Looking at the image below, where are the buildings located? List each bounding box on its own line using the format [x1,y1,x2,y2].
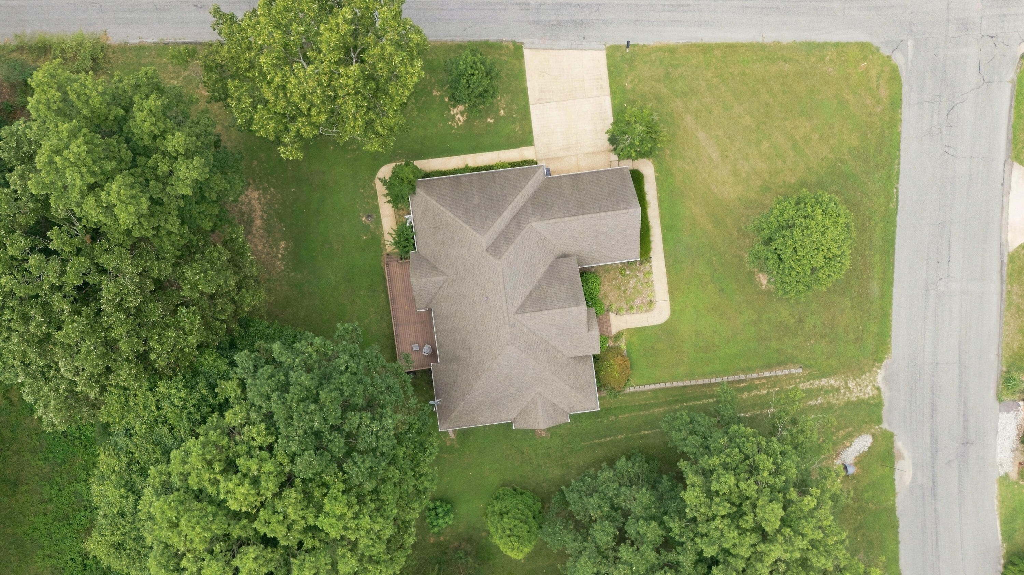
[409,163,640,432]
